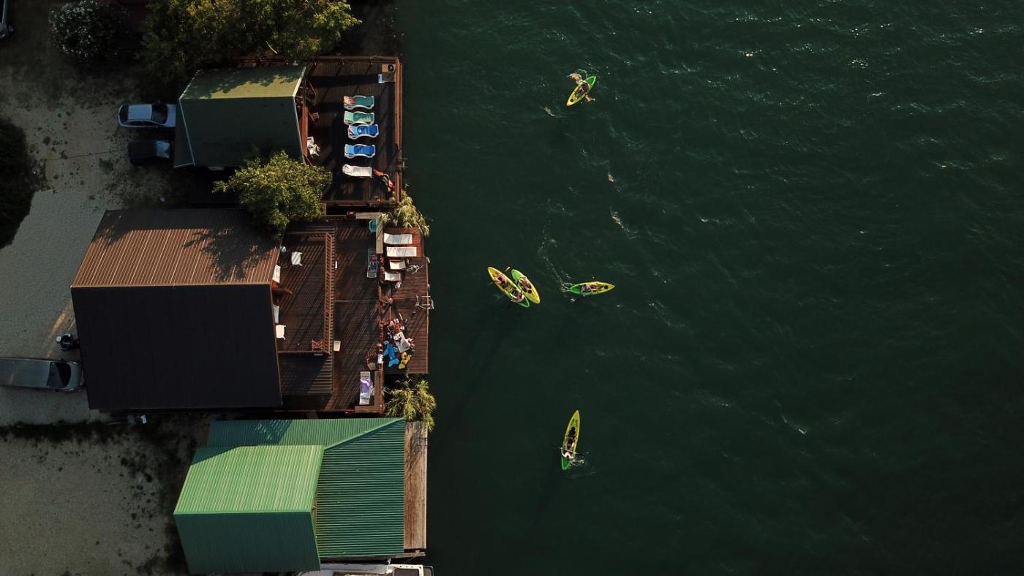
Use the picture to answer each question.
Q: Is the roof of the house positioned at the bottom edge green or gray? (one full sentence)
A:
From above, the roof of the house positioned at the bottom edge appears green.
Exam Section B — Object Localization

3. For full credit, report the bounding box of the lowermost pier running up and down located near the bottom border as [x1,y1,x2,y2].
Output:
[402,421,428,549]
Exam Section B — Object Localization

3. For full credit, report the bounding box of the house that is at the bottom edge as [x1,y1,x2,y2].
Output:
[173,417,404,576]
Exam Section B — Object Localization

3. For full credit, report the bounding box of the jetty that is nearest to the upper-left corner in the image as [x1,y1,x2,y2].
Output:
[383,227,425,259]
